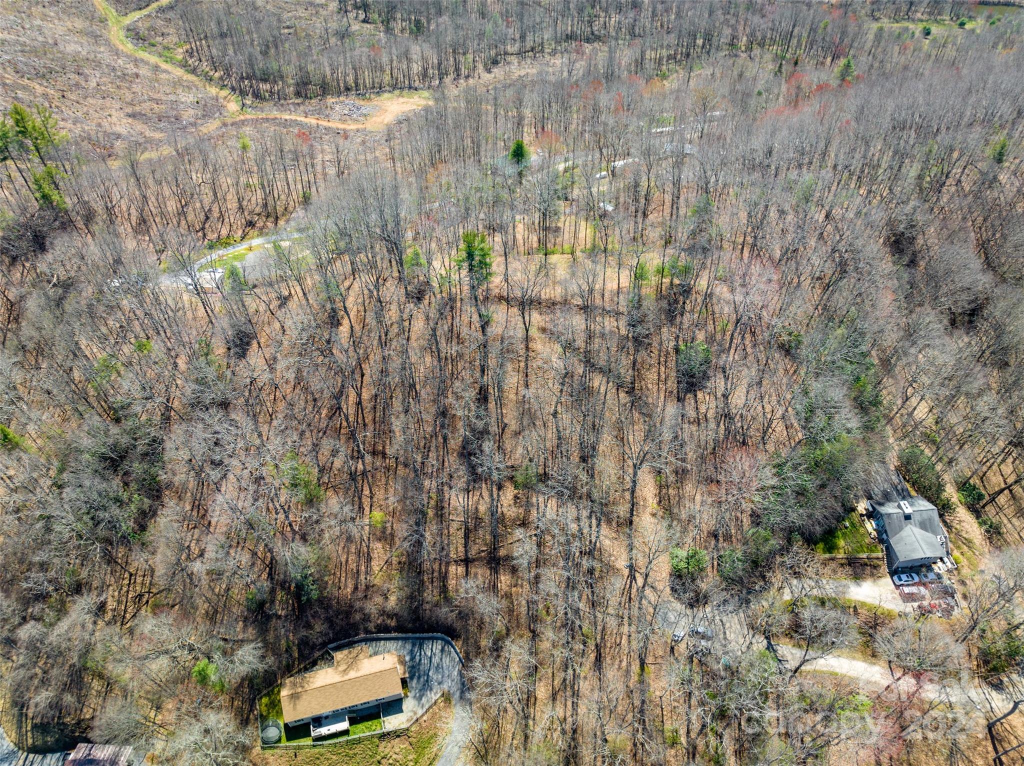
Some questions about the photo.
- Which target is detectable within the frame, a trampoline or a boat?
trampoline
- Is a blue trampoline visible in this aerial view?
No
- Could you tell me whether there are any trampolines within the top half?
No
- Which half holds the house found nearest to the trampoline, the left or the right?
left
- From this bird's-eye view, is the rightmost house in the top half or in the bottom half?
bottom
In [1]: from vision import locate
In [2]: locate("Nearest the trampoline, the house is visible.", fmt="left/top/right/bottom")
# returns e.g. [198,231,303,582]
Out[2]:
[281,646,409,739]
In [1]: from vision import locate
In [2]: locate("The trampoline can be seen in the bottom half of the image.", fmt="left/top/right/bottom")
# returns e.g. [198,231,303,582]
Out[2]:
[257,721,284,747]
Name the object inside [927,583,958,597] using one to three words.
car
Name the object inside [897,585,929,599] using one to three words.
car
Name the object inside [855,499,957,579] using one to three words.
house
